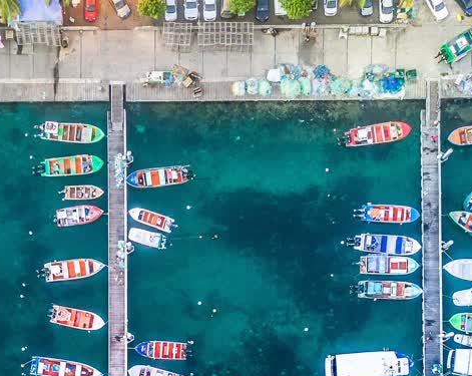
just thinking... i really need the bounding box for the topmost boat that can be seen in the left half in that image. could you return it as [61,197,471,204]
[34,121,111,143]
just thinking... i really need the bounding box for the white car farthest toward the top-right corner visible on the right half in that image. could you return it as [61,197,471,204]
[425,0,450,21]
